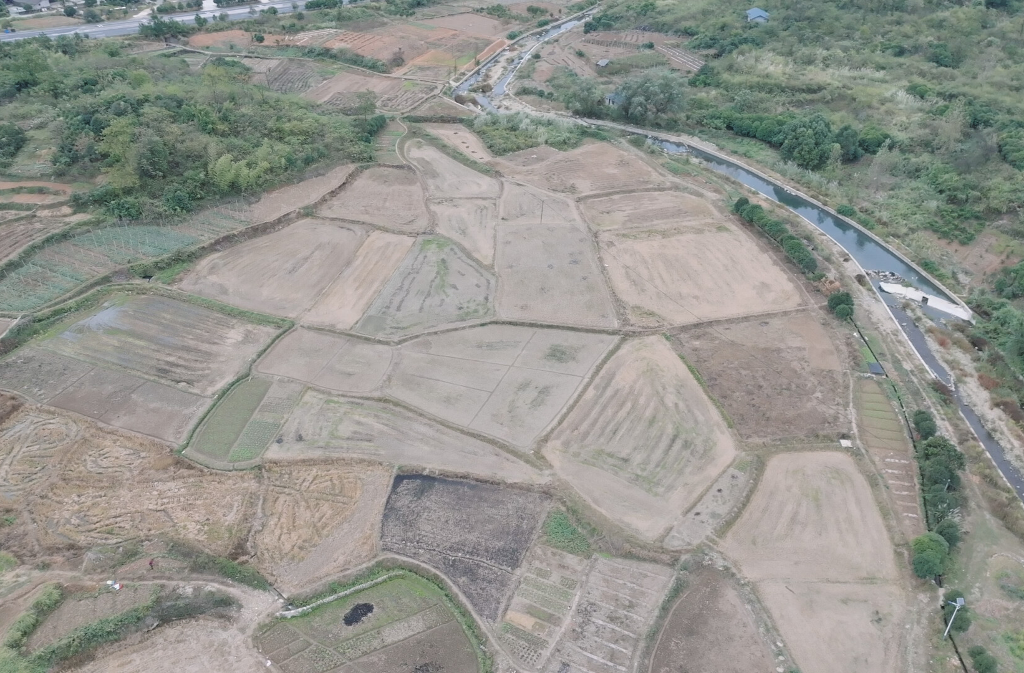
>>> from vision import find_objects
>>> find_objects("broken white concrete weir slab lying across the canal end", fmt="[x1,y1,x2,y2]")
[879,283,967,320]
